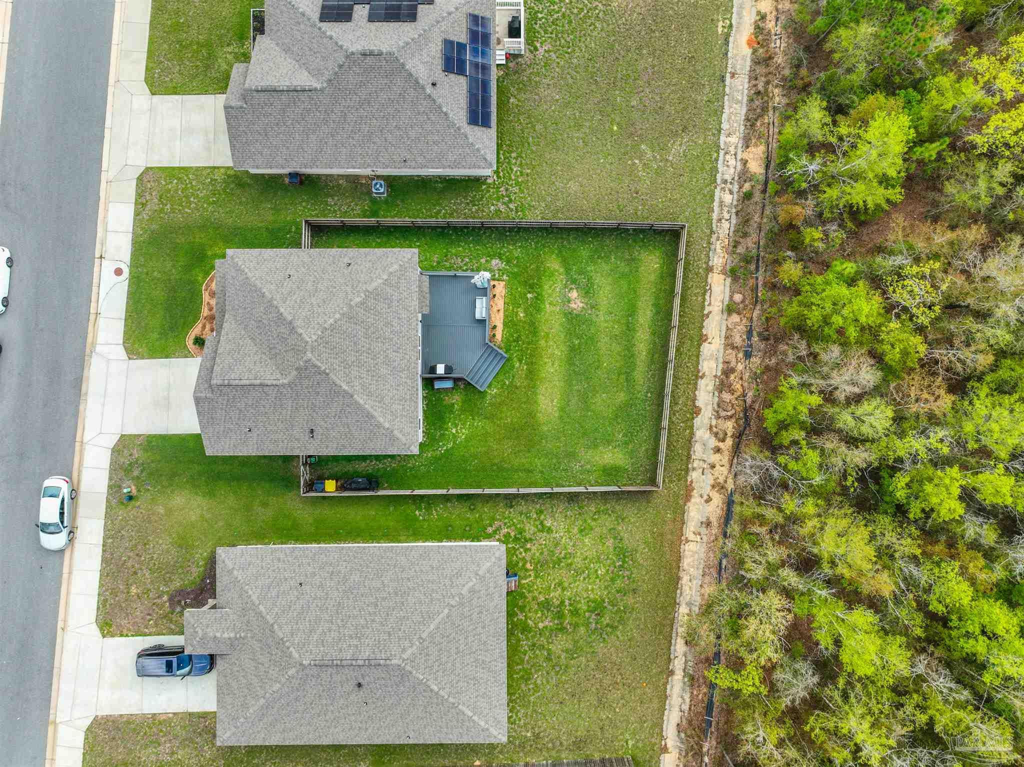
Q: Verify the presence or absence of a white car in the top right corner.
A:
No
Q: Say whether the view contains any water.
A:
No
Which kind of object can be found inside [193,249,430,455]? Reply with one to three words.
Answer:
house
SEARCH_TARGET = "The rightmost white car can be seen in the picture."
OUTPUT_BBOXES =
[35,473,80,549]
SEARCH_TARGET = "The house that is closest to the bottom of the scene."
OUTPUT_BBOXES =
[184,542,506,745]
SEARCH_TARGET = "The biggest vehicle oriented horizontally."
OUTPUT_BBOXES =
[134,640,216,681]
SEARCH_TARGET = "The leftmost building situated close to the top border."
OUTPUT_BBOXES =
[222,0,496,176]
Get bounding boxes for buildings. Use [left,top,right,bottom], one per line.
[184,542,506,745]
[193,249,430,455]
[222,0,496,176]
